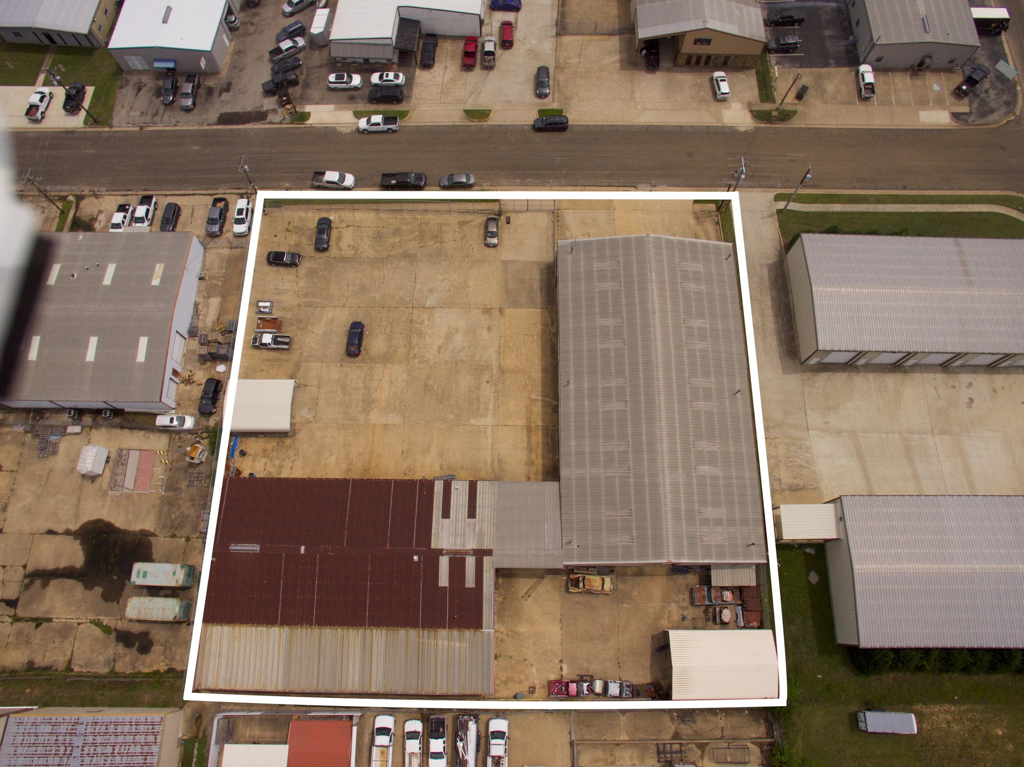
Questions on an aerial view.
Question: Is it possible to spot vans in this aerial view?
Yes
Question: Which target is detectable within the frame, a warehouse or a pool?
warehouse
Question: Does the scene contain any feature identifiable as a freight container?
Yes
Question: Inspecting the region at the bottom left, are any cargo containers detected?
Yes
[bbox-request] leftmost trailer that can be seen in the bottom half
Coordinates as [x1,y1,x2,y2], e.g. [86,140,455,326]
[78,441,112,484]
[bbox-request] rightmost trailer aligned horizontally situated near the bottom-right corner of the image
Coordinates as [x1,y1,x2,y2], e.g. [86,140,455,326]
[854,706,918,736]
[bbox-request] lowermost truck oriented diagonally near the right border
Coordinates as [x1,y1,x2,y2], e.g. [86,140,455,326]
[954,66,989,97]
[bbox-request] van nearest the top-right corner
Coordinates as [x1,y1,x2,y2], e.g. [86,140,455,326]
[971,6,1016,36]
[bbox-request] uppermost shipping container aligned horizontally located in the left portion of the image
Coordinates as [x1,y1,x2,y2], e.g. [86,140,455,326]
[128,562,198,590]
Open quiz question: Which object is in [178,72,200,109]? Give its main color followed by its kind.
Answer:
gray truck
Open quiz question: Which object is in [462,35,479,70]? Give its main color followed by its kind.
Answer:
red vehicle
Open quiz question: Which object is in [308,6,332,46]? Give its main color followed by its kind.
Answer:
white trailer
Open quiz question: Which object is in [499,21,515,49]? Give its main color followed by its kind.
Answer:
red car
